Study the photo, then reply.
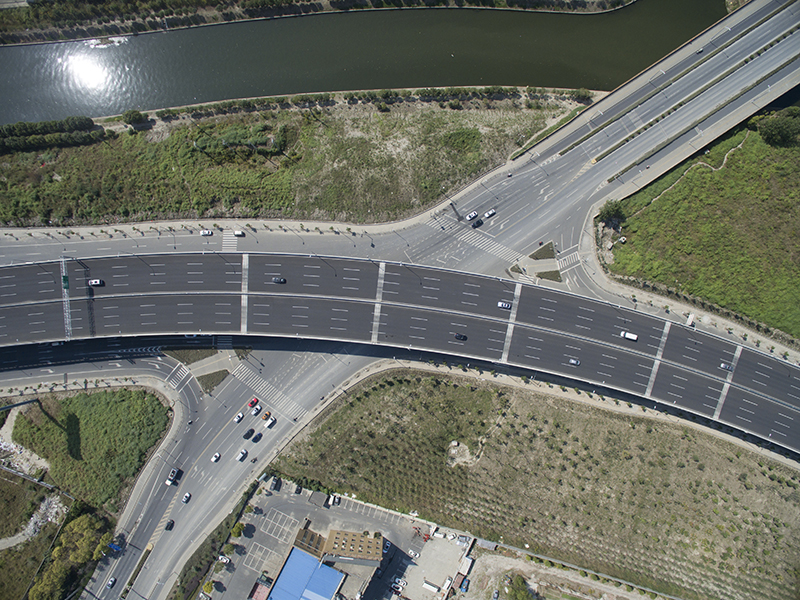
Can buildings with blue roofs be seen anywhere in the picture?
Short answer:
Yes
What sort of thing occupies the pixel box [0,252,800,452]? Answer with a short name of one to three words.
overpass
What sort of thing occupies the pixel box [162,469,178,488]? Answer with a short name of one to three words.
vehicle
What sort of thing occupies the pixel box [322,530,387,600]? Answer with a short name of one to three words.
building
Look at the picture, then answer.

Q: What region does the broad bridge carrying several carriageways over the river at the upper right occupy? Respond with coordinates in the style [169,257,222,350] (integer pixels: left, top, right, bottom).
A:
[520,0,800,211]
